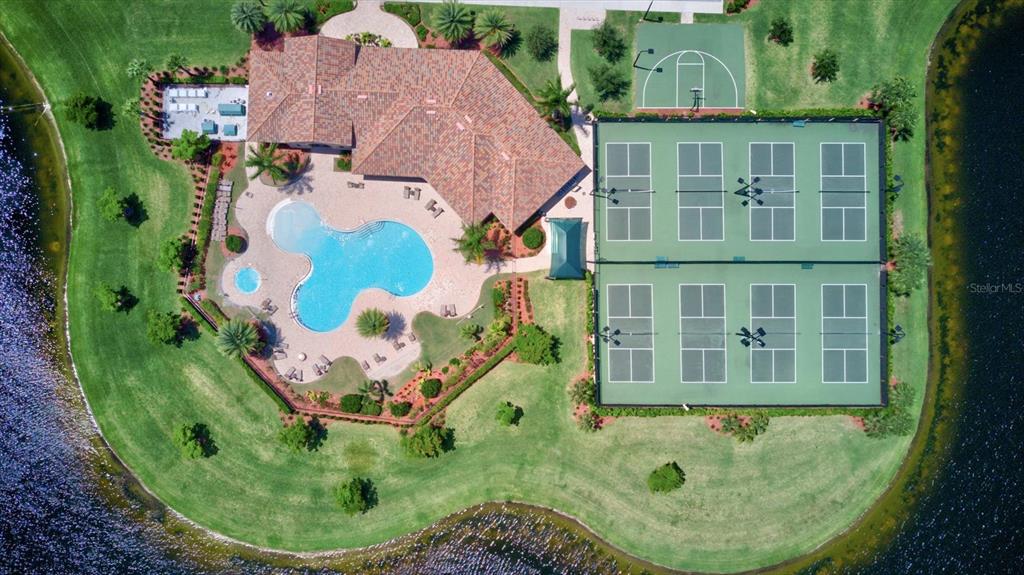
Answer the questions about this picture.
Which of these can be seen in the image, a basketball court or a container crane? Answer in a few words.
basketball court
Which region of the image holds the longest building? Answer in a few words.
top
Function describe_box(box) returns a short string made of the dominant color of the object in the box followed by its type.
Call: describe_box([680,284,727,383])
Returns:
gray sports court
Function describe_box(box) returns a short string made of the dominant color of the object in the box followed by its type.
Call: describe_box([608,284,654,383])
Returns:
gray sports court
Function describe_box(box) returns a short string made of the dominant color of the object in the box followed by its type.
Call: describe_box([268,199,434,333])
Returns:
blue swimming pool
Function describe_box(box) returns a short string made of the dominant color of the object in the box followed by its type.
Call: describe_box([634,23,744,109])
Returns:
green basketball court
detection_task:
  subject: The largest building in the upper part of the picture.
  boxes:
[246,33,585,232]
